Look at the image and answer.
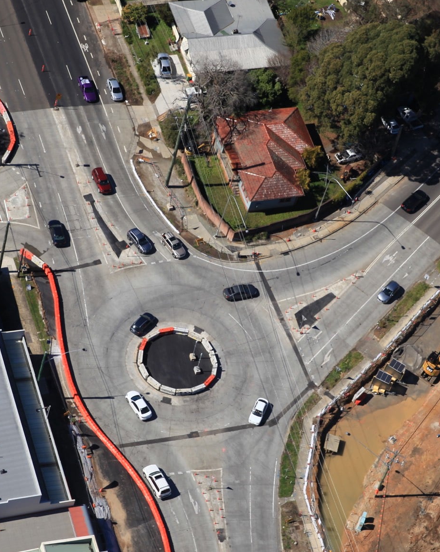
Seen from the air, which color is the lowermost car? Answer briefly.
white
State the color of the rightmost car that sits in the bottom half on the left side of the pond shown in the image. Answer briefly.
white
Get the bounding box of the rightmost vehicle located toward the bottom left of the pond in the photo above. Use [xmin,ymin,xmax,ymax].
[245,395,272,431]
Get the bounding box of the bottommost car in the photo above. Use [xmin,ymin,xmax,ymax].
[143,464,174,502]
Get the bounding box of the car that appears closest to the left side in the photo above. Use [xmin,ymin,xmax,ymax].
[47,219,69,250]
